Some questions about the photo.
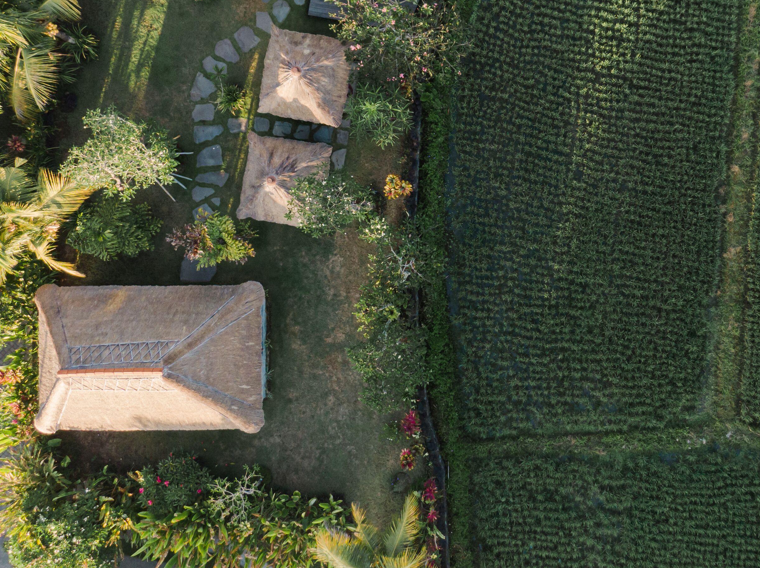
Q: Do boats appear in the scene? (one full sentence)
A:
No, I can't see a single boat in this photo.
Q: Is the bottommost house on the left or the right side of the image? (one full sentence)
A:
The bottommost house is on the left side of the image.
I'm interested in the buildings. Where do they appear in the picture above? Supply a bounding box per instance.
[33,281,271,435]
[238,132,333,233]
[260,25,349,126]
